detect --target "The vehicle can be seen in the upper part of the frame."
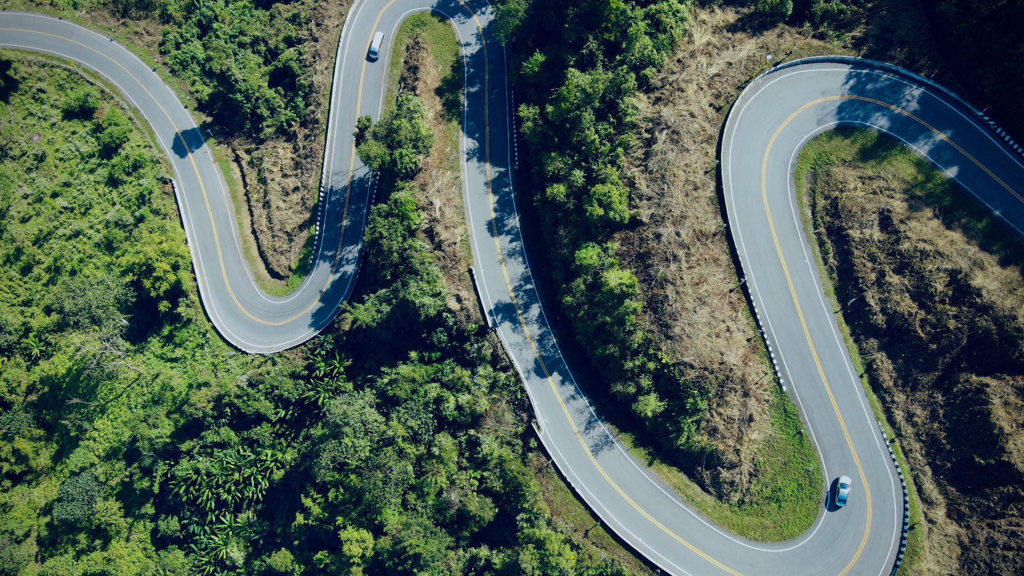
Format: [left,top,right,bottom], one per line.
[367,30,382,60]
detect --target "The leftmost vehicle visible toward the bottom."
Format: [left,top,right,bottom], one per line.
[835,479,854,507]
